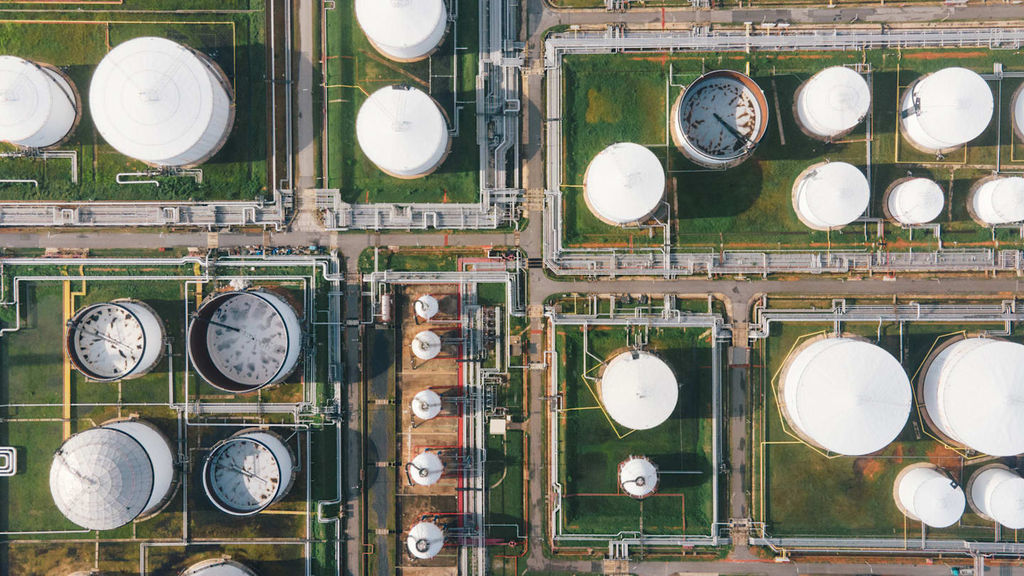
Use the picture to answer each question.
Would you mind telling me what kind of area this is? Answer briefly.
industrial area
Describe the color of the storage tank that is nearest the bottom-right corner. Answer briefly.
white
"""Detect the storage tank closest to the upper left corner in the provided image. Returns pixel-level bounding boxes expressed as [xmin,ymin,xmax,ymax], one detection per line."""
[0,54,81,155]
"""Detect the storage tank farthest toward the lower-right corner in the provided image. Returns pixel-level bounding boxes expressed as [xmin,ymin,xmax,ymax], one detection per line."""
[965,464,1024,530]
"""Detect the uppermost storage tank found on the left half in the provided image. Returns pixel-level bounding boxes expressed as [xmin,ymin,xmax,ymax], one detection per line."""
[354,0,451,62]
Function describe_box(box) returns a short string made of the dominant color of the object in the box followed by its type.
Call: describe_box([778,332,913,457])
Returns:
white storage tank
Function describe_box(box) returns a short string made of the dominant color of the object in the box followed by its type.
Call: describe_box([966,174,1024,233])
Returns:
white storage tank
